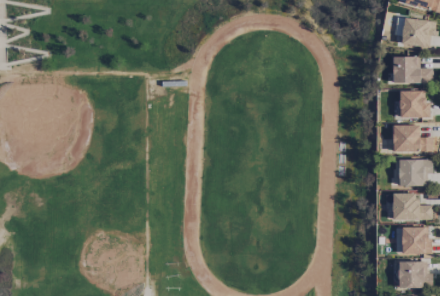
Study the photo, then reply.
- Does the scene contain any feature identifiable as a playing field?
Yes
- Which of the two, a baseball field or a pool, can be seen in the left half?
baseball field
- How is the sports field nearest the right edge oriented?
from top to bottom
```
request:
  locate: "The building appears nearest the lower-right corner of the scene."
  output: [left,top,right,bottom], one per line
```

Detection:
[399,261,433,288]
